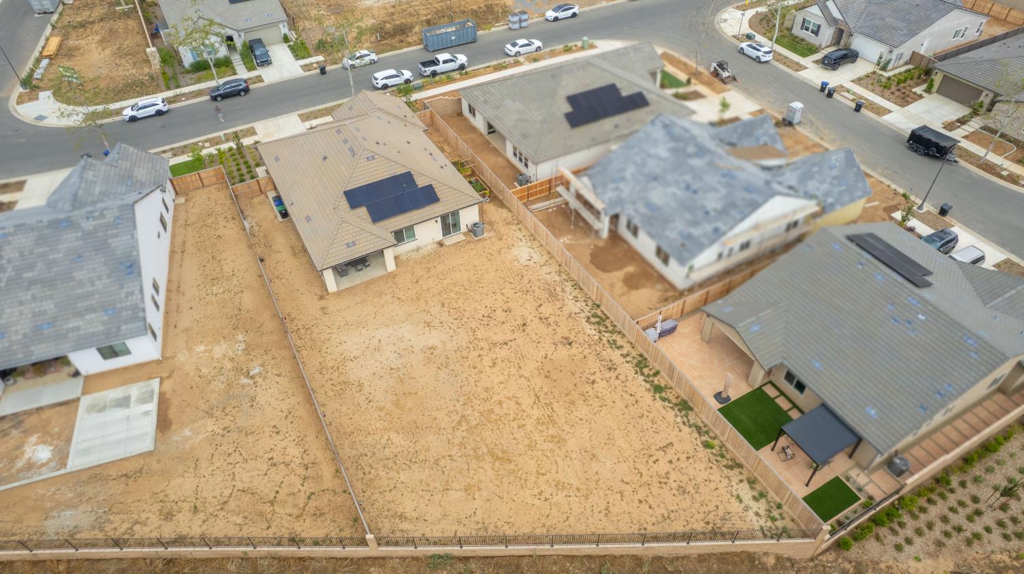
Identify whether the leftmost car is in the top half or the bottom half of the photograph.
top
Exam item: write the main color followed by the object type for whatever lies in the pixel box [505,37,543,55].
white car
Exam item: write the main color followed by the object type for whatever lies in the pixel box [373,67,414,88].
white car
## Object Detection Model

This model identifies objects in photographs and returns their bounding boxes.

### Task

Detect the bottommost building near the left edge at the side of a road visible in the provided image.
[0,143,178,397]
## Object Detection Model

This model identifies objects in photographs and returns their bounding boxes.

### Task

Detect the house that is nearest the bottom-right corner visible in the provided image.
[699,221,1024,473]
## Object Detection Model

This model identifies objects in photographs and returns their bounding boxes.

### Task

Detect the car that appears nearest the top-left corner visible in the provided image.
[121,93,166,119]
